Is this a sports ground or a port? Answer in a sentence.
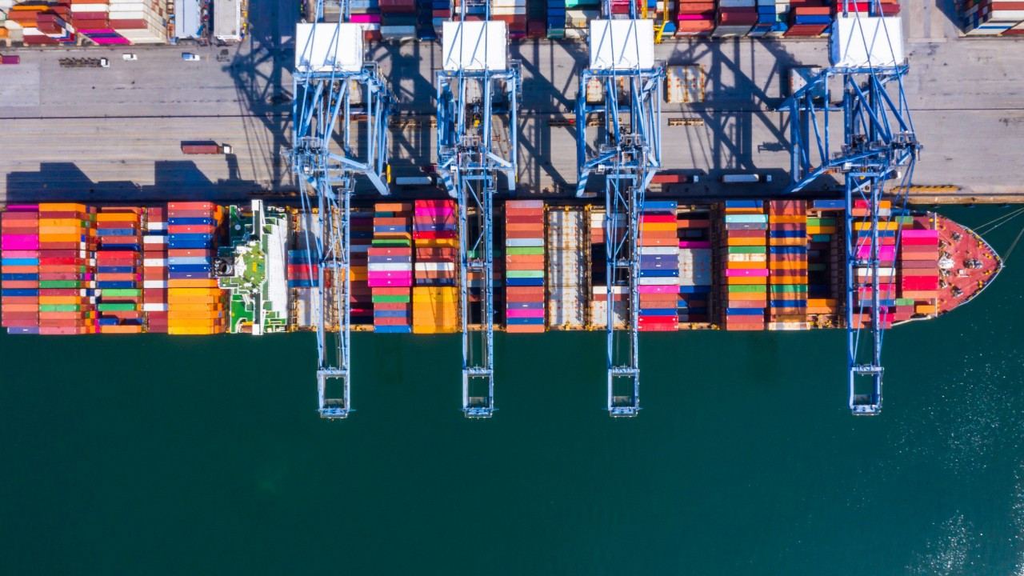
It's a port.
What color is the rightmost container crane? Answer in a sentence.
The rightmost container crane looks blue in the image.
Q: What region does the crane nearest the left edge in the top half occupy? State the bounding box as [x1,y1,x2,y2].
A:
[286,0,410,422]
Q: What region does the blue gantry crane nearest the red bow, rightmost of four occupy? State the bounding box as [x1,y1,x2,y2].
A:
[759,0,921,419]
